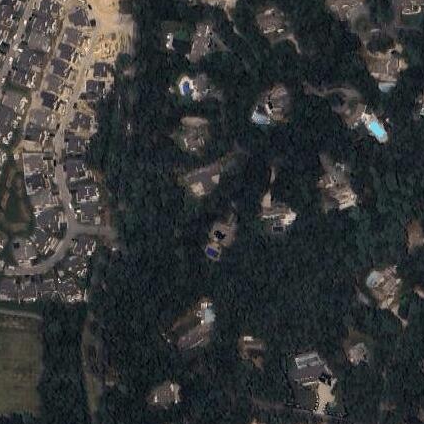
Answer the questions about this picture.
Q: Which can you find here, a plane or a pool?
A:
pool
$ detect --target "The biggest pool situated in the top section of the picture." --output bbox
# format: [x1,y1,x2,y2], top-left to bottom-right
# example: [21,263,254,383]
[363,112,388,143]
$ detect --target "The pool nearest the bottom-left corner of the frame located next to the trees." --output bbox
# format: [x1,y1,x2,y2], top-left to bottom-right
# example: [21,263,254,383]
[203,308,216,324]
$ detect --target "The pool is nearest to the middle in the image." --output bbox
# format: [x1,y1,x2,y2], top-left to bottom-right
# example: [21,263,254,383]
[203,244,221,260]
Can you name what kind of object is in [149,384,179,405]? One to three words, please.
house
